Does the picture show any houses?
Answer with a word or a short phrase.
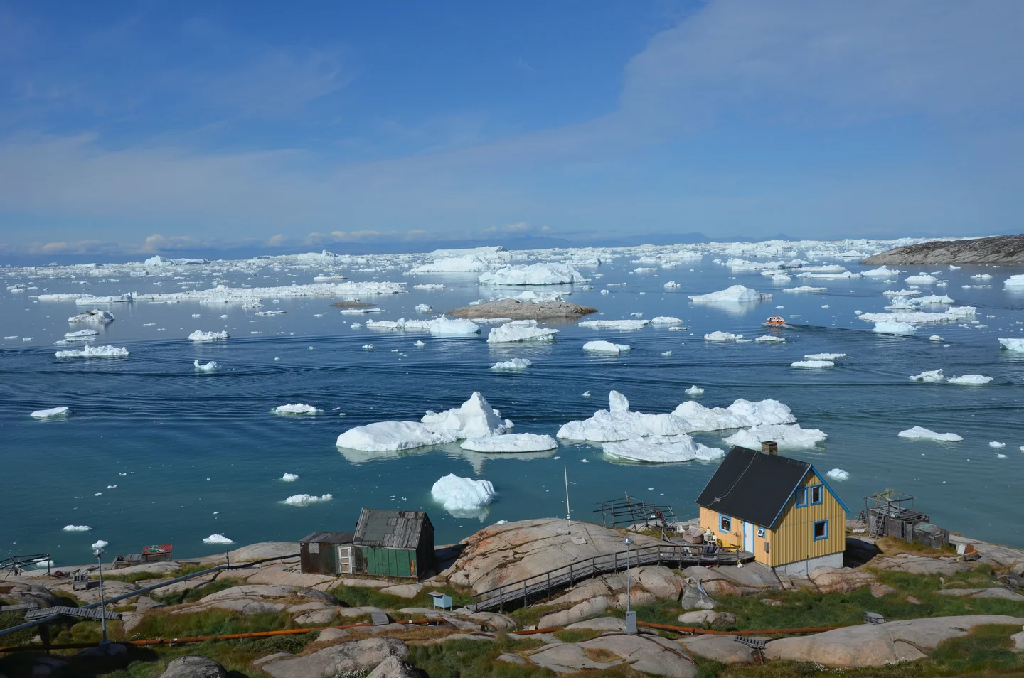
Yes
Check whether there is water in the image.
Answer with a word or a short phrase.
Yes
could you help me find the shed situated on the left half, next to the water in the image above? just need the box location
[297,506,434,580]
